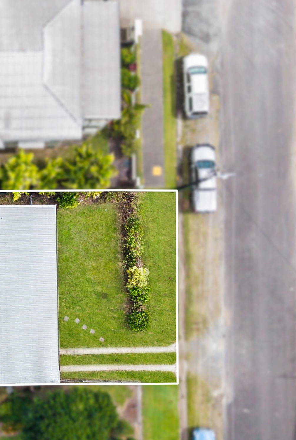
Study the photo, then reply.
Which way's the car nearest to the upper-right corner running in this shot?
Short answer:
vertically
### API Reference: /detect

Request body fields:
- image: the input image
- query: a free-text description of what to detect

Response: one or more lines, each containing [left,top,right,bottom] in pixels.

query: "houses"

[0,0,120,154]
[0,206,61,386]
